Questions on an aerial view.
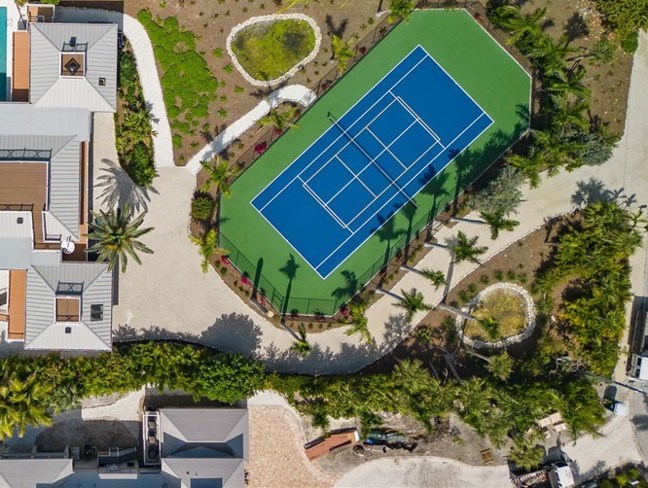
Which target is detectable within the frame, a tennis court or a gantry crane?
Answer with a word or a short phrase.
tennis court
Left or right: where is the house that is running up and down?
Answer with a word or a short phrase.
left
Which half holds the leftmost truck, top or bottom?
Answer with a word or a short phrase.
bottom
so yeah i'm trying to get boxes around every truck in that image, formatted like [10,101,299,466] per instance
[624,303,648,379]
[502,454,581,488]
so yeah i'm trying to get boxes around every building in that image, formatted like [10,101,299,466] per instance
[0,2,117,351]
[0,408,248,488]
